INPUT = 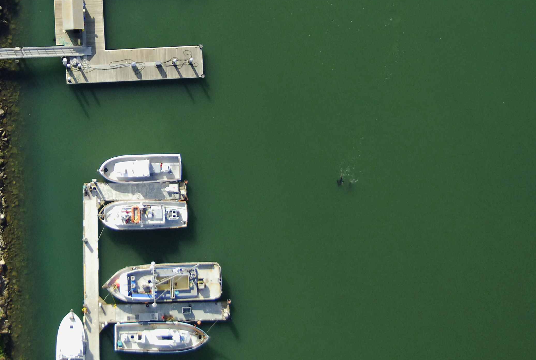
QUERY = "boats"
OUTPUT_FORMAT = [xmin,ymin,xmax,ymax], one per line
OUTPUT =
[56,309,87,360]
[102,261,222,307]
[98,200,187,229]
[114,320,208,352]
[97,154,181,182]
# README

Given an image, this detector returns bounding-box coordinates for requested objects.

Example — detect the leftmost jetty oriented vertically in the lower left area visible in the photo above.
[84,183,100,360]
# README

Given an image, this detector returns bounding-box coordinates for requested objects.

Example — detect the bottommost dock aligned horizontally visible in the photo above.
[99,297,229,332]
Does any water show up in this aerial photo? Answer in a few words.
Yes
